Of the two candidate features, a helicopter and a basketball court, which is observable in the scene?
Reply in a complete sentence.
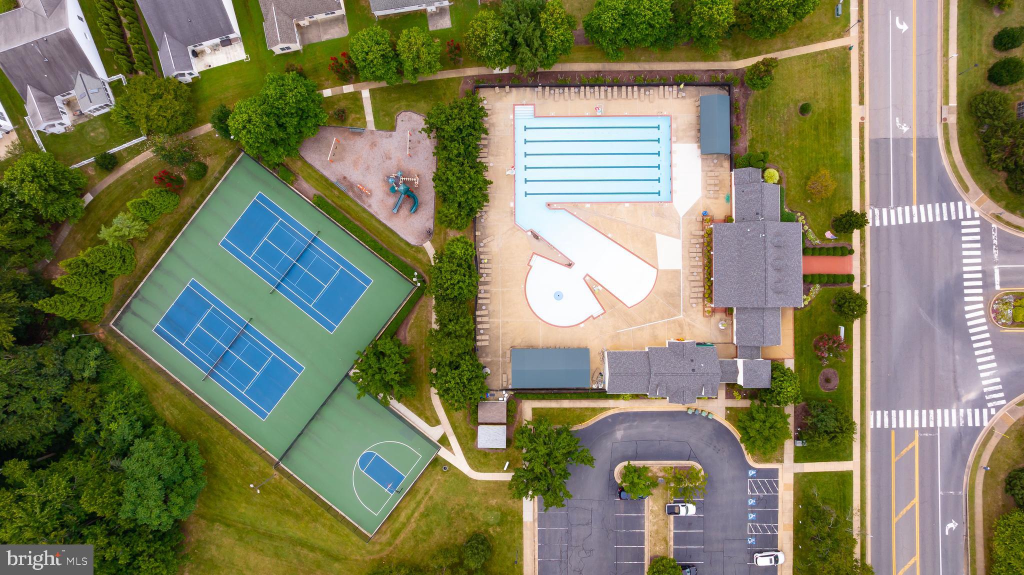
There is a basketball court in the scene.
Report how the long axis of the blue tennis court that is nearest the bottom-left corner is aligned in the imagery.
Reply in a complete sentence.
The blue tennis court that is nearest the bottom-left corner runs diagonally in the image.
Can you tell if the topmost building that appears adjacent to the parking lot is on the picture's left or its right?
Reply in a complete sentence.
The topmost building that appears adjacent to the parking lot appears in the right half of the scene.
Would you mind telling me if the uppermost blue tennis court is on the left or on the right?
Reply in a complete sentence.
The uppermost blue tennis court is on the left side of the image.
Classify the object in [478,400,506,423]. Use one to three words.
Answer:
shed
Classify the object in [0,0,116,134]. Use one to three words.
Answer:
house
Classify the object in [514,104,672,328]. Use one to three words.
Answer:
swimming pool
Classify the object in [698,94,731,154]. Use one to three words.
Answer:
building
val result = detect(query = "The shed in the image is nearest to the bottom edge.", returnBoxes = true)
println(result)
[478,424,506,448]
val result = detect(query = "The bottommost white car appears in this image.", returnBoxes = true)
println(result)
[755,553,785,568]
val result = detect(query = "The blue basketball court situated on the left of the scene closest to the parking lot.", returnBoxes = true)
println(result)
[353,441,422,515]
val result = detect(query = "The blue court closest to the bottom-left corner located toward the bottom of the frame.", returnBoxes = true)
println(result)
[152,279,305,421]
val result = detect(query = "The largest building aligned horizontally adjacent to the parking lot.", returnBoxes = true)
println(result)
[606,342,740,404]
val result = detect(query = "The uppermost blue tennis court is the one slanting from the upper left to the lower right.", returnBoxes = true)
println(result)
[220,192,373,331]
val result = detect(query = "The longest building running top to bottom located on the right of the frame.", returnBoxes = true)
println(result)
[709,168,803,360]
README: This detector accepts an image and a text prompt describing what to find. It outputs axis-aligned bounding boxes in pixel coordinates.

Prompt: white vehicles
[755,553,785,568]
[666,503,697,519]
